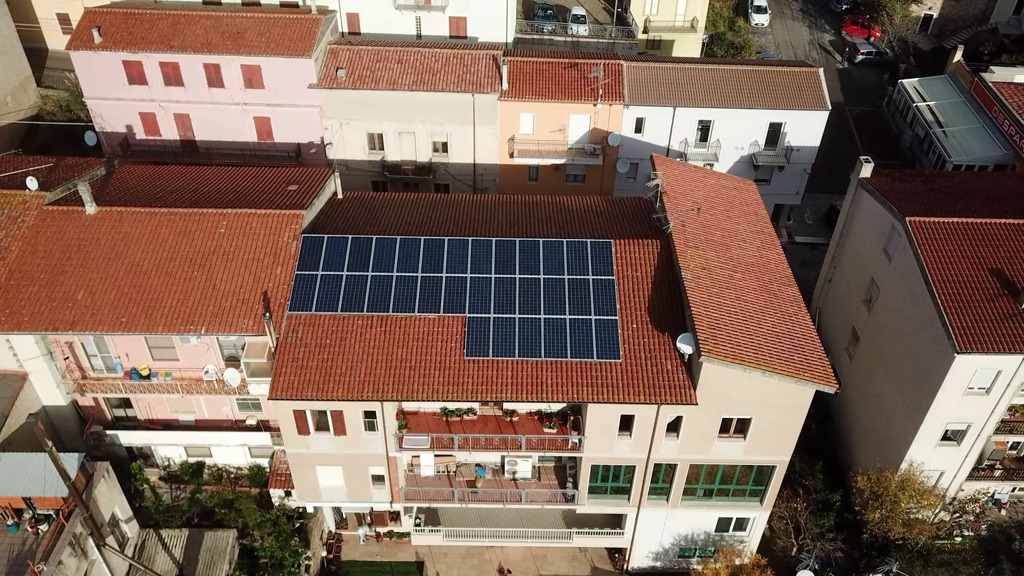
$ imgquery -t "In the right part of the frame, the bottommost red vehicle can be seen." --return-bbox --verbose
[842,16,881,39]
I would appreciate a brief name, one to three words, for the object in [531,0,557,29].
car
